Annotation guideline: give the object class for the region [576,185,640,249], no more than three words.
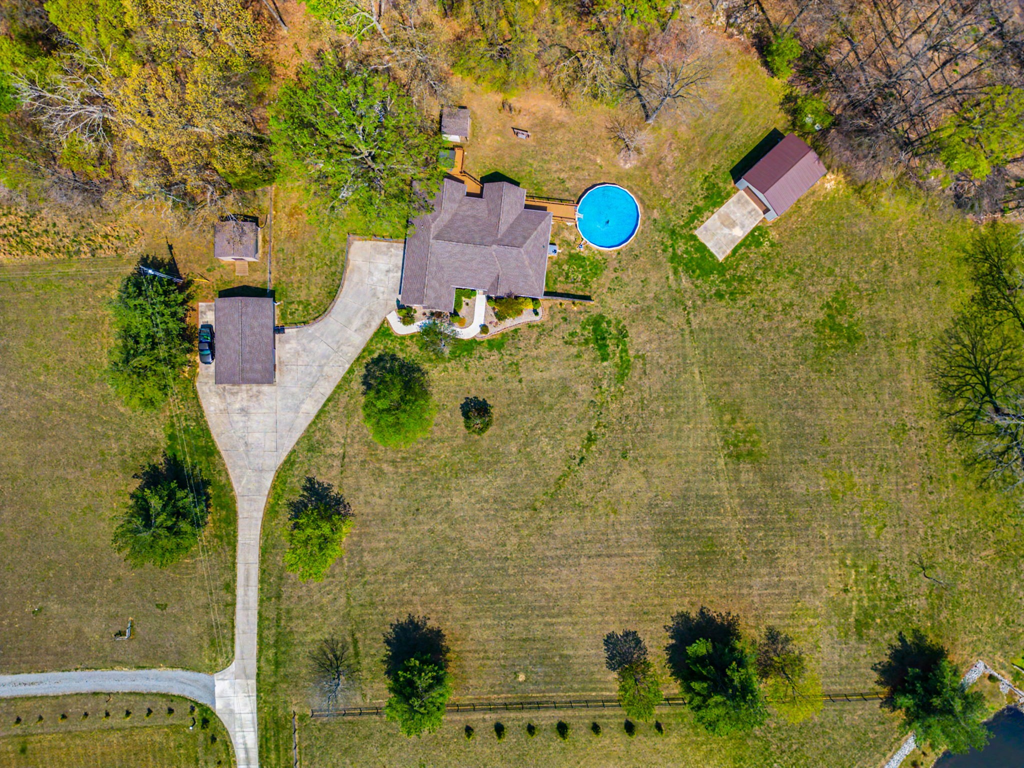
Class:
swimming pool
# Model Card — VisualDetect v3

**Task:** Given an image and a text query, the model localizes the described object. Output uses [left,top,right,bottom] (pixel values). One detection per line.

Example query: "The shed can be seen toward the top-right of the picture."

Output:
[739,133,827,219]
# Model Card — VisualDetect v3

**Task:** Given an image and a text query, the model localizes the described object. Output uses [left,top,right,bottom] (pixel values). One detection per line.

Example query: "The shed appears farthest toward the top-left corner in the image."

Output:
[215,221,262,259]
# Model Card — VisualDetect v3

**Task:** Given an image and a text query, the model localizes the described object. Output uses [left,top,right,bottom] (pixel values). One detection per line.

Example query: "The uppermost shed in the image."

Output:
[441,107,469,146]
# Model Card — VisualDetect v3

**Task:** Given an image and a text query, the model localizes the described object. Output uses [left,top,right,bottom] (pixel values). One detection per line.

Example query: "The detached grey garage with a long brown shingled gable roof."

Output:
[214,297,284,384]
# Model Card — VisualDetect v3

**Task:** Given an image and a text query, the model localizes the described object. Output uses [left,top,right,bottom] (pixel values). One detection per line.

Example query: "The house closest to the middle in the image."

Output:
[400,176,553,312]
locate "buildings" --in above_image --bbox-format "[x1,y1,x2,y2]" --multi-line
[400,176,553,312]
[441,107,469,146]
[739,133,827,219]
[214,297,284,384]
[215,221,262,259]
